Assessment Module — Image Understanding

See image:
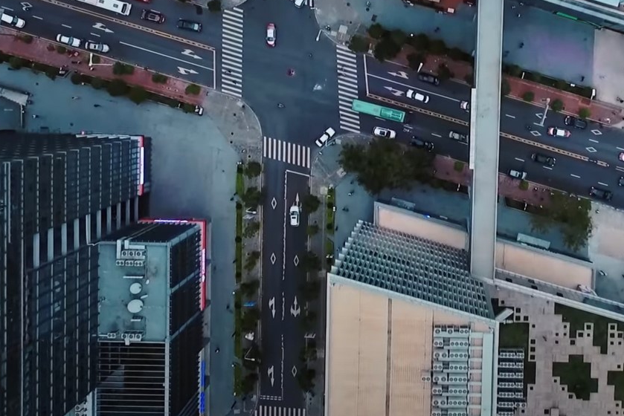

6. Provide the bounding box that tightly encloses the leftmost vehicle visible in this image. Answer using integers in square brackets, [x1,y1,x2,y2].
[1,13,27,28]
